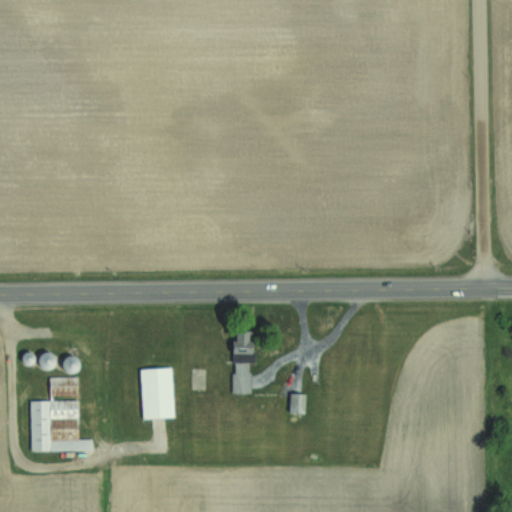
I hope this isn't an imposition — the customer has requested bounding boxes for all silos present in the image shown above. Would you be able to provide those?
[39,353,58,371]
[62,356,82,375]
[22,352,36,367]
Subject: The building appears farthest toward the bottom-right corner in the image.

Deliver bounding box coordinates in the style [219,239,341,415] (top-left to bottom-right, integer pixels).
[290,394,306,415]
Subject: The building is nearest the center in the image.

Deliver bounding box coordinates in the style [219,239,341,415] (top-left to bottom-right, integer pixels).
[232,332,255,394]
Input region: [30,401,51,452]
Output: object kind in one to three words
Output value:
shed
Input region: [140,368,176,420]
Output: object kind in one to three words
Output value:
barn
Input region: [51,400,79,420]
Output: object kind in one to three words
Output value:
shed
